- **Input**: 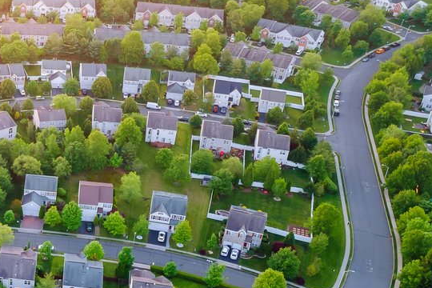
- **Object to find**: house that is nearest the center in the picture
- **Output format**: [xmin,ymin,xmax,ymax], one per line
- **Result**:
[199,121,235,151]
